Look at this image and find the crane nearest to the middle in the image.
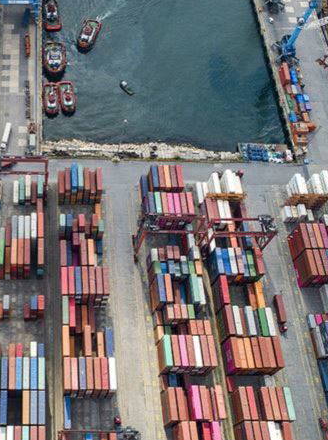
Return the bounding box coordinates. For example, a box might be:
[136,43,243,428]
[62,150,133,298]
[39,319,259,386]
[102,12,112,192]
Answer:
[132,211,212,258]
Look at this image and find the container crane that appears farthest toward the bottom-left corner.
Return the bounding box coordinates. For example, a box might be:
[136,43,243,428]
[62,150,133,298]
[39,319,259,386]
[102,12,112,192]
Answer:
[53,424,151,440]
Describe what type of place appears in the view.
port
